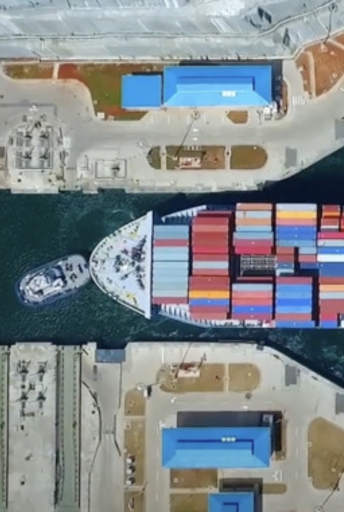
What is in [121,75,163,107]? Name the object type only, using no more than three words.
building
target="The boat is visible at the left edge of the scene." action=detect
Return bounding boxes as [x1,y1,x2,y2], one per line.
[14,257,93,305]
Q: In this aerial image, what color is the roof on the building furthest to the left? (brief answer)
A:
blue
